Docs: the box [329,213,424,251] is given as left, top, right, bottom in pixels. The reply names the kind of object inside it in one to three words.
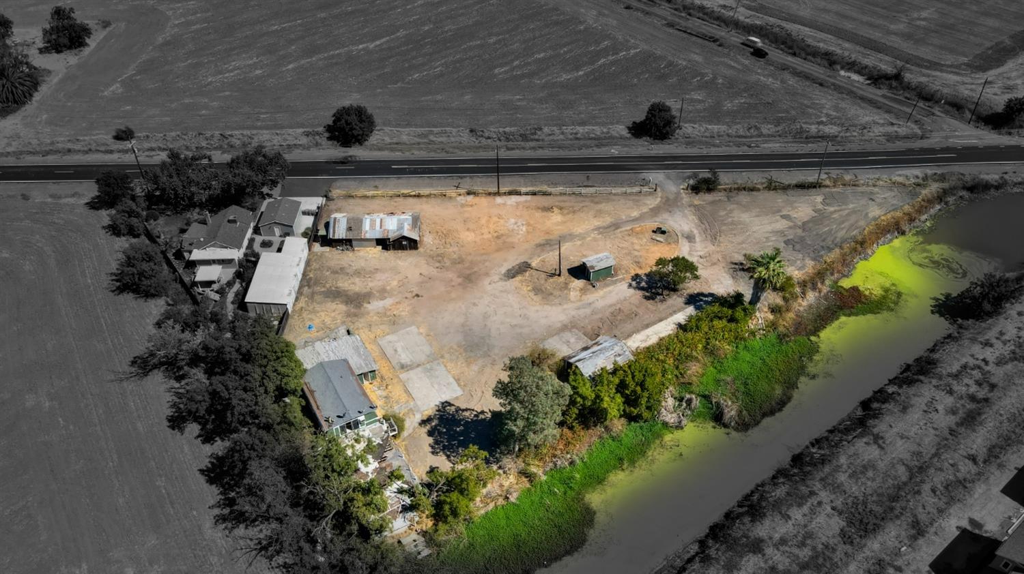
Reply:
barn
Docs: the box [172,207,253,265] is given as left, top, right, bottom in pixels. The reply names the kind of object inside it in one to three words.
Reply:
house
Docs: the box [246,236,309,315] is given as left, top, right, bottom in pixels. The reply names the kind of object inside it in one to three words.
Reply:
shed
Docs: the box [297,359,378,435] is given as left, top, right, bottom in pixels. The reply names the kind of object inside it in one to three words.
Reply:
building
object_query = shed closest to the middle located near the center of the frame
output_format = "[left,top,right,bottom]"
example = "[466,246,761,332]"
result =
[575,250,615,280]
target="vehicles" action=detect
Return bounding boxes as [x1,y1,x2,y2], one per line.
[745,37,762,49]
[753,49,769,58]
